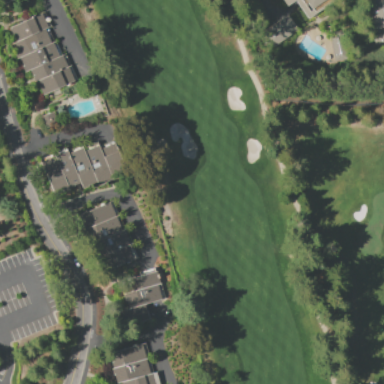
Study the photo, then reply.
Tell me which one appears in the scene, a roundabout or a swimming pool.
swimming pool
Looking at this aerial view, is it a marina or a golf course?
golf course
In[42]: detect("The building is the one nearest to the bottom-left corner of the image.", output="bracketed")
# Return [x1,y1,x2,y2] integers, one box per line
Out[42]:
[114,345,164,384]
